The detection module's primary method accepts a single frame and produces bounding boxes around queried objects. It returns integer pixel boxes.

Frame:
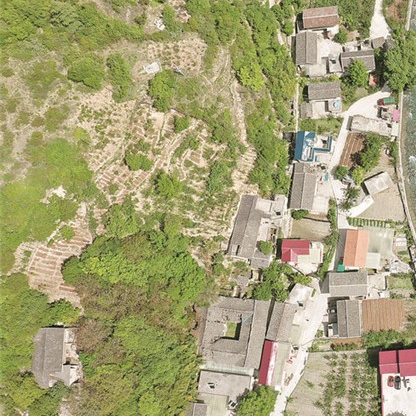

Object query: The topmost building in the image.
[303,5,340,36]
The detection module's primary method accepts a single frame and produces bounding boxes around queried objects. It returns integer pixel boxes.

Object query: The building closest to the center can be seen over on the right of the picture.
[228,194,290,267]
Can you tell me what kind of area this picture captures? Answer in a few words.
residential area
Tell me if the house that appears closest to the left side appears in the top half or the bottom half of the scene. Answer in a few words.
bottom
